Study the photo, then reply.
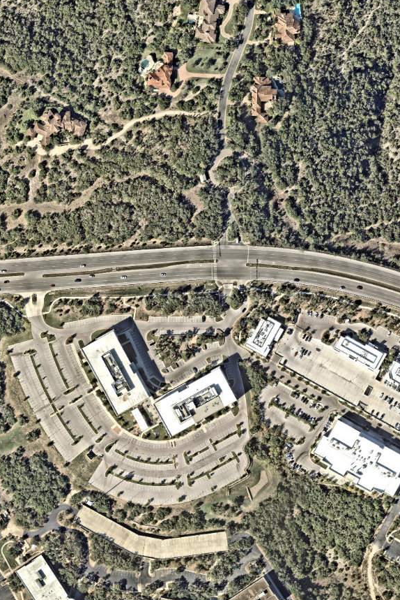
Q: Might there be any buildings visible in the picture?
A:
Yes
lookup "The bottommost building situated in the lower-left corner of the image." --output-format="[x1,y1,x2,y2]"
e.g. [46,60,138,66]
[15,554,74,600]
